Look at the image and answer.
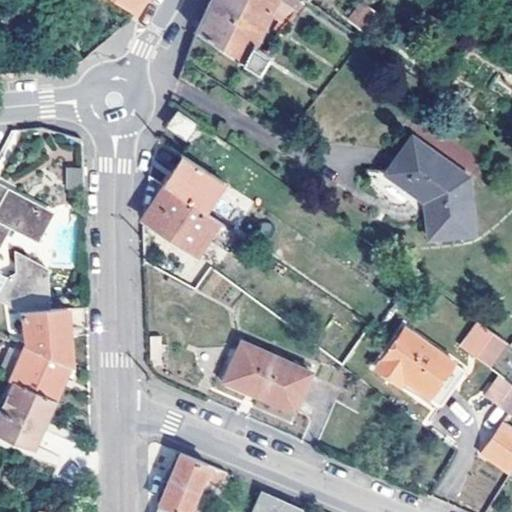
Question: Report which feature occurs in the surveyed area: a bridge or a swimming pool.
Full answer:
I can see a swimming pool in this picture.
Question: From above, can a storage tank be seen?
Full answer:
No, there's no storage tank here.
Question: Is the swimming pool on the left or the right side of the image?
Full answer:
You can find the swimming pool on the left side of the picture.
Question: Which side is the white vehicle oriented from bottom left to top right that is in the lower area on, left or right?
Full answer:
The white vehicle oriented from bottom left to top right that is in the lower area sits on the right side.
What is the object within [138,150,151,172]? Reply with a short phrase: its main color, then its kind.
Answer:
white vehicle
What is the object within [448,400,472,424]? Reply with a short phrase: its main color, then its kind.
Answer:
white vehicle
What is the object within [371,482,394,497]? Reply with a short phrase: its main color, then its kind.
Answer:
white car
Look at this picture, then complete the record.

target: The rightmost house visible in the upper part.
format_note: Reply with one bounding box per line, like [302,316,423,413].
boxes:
[384,132,480,242]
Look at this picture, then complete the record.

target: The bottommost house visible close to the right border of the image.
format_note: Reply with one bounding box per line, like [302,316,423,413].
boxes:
[480,422,512,476]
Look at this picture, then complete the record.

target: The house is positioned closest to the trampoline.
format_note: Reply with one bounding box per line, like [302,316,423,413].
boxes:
[140,156,228,260]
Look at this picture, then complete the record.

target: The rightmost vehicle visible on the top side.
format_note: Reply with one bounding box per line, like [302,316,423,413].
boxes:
[322,163,339,181]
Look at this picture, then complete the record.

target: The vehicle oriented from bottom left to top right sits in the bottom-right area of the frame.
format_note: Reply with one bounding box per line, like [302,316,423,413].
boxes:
[482,406,504,430]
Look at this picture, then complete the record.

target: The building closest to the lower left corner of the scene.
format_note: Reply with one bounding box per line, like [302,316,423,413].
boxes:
[0,384,58,452]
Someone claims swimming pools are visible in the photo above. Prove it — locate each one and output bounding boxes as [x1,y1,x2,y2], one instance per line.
[54,214,78,268]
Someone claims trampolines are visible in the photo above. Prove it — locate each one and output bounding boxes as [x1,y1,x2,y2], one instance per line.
[258,218,276,237]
